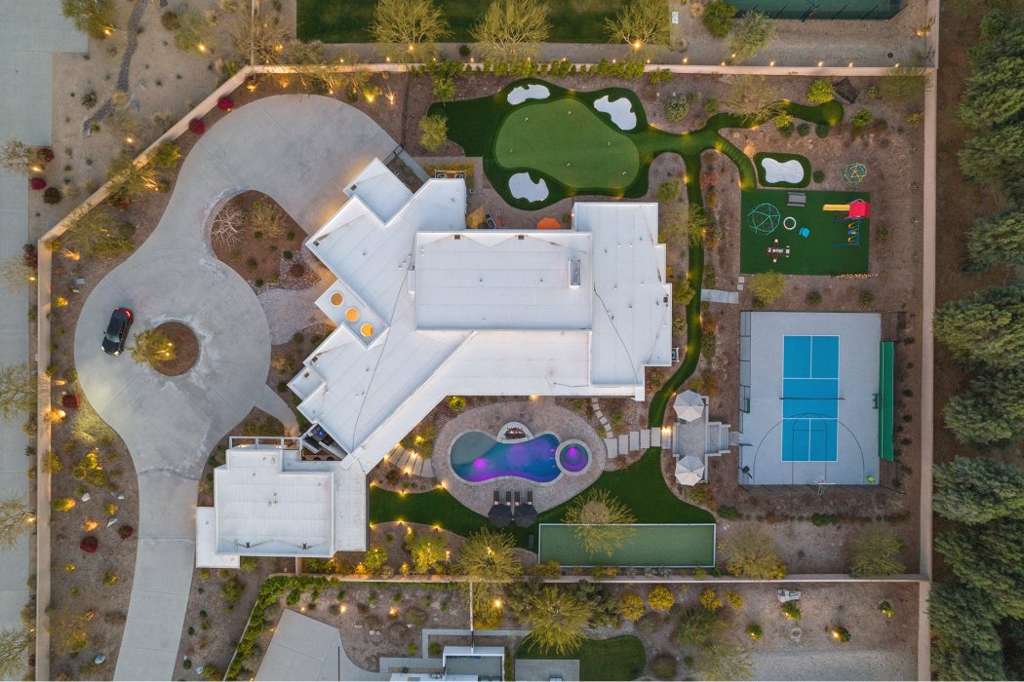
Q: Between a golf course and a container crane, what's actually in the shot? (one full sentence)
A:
I can see a golf course in this picture.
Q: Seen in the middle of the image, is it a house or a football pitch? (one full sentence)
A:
The feature located in the middle of the image is a house.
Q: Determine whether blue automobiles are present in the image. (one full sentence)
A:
No, the frame has no blue automobile in it.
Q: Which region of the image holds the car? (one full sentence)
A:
The car appears toward the left of the photo.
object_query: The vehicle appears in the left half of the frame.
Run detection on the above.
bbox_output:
[102,308,133,355]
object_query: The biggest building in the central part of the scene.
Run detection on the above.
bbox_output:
[252,157,671,474]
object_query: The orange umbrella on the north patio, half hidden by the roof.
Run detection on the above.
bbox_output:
[537,214,561,233]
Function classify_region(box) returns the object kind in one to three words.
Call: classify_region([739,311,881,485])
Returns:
sports court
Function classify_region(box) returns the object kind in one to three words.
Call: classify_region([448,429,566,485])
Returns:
swimming pool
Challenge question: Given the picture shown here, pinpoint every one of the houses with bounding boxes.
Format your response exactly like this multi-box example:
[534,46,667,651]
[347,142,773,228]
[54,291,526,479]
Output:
[391,646,504,682]
[252,157,671,474]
